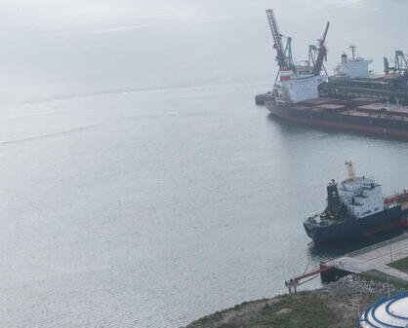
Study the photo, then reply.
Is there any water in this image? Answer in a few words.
Yes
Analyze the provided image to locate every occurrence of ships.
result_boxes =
[295,137,408,239]
[319,43,408,102]
[256,63,408,138]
